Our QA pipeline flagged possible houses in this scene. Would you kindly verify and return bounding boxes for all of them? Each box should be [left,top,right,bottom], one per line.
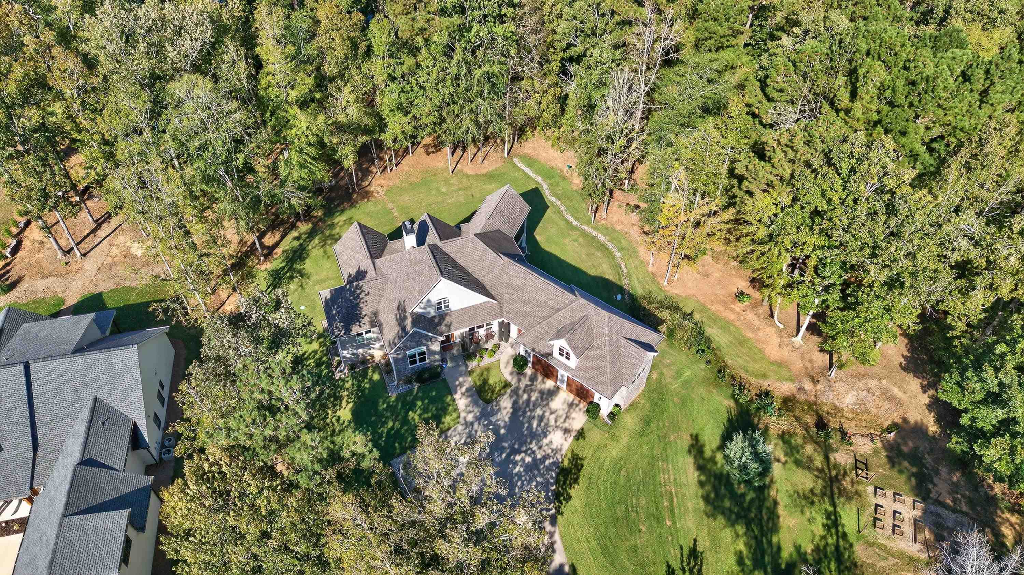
[318,183,664,415]
[0,301,175,575]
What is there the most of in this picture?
trees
